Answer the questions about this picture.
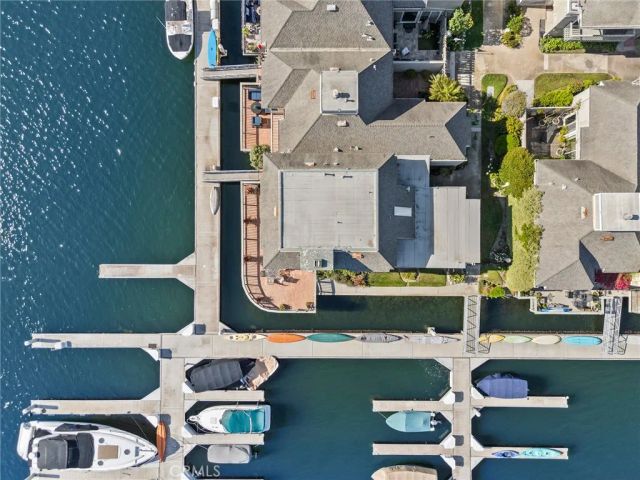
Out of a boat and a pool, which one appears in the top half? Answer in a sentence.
Looking in the top half, you will find a boat.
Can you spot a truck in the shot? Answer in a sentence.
No, the photo shows no truck.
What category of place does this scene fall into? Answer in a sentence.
The area seen from above is a residential area.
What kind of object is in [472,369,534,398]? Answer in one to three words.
boat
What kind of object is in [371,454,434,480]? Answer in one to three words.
boat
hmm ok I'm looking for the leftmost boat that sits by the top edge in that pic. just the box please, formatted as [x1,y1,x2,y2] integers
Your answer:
[151,0,196,61]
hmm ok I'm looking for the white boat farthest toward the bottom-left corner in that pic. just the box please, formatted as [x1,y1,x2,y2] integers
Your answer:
[18,412,159,472]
